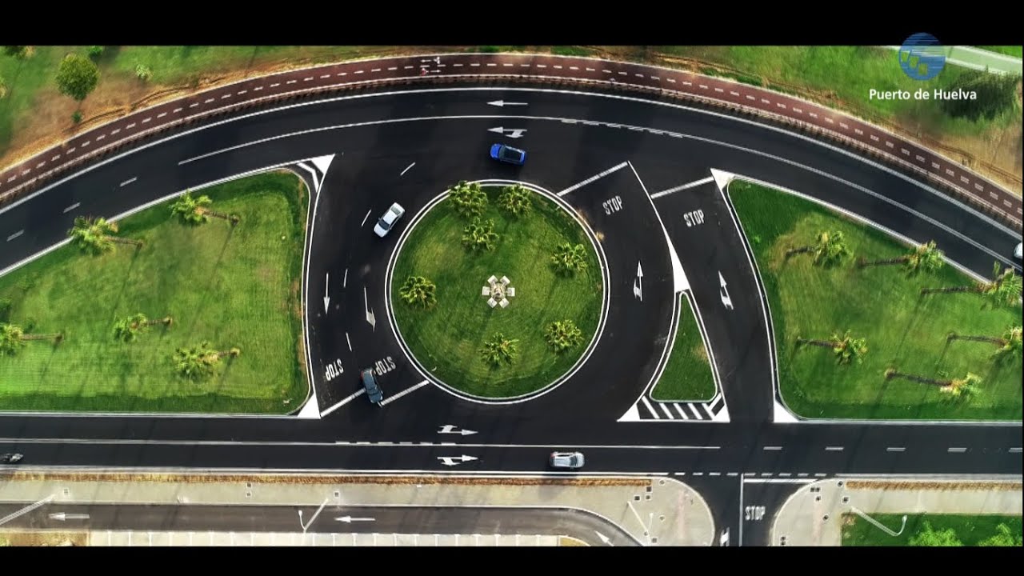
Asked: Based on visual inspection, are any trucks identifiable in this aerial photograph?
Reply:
No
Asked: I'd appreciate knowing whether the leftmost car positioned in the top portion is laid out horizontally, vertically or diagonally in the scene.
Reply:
diagonally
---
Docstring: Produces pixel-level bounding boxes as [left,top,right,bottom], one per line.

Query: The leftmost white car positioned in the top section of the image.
[374,203,404,236]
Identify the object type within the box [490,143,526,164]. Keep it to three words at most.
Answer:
car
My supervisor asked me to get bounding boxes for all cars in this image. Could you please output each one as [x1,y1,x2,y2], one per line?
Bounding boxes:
[360,368,383,402]
[1015,244,1024,261]
[490,143,526,164]
[549,450,583,469]
[374,203,404,236]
